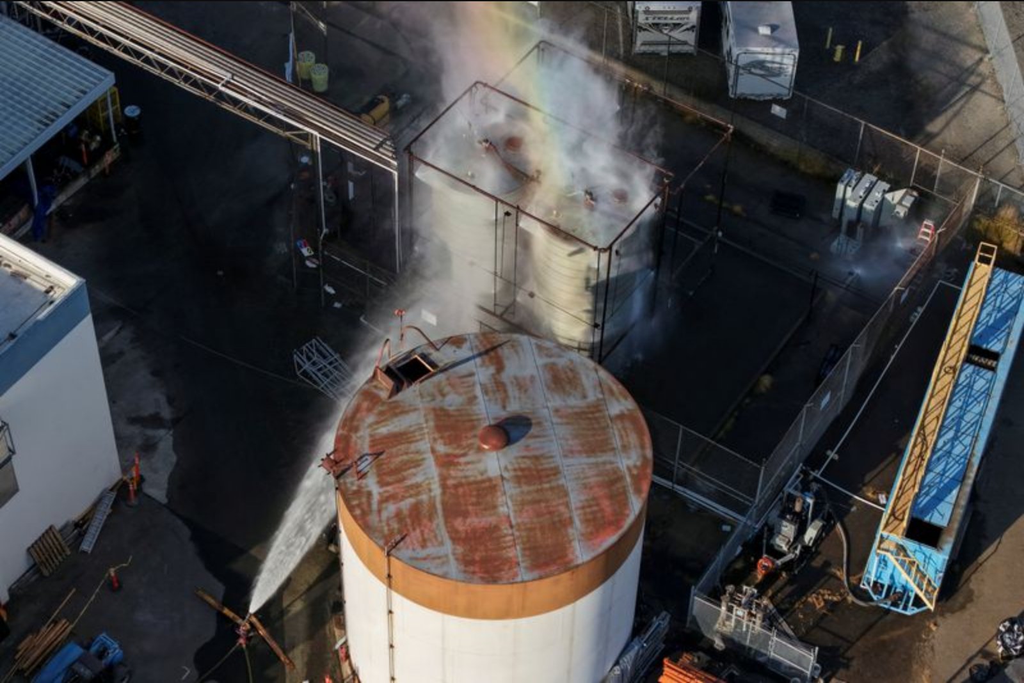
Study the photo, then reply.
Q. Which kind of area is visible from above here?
industrial area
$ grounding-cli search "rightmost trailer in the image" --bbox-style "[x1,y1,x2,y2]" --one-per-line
[859,225,1024,633]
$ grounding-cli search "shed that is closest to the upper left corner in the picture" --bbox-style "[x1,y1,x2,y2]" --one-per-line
[0,9,128,216]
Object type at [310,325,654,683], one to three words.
storage tank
